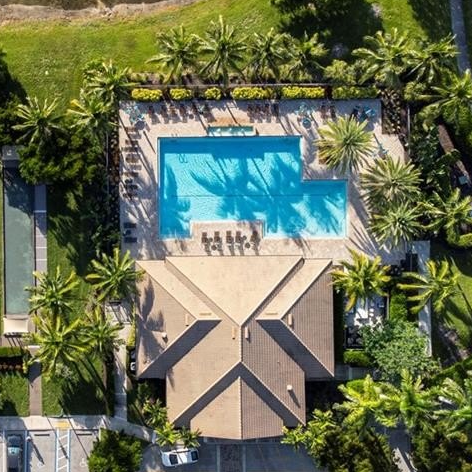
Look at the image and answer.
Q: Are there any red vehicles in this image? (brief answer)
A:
No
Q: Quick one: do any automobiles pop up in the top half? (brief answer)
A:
No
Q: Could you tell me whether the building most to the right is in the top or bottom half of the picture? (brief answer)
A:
bottom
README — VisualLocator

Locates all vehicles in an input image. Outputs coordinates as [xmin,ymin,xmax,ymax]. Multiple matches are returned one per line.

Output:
[5,433,24,472]
[160,448,199,469]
